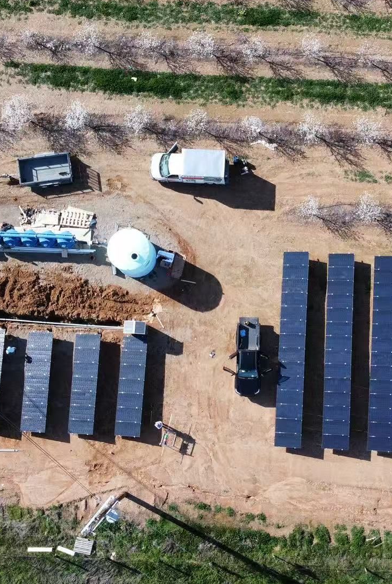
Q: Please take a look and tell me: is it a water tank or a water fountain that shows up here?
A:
water tank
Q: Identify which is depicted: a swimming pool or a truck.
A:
truck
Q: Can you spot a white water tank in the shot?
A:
Yes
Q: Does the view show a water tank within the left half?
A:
Yes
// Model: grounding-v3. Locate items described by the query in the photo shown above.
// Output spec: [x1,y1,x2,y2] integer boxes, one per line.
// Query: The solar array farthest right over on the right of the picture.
[367,254,392,451]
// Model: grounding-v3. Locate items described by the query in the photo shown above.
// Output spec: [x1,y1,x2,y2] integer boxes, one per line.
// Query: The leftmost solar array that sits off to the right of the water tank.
[275,250,310,450]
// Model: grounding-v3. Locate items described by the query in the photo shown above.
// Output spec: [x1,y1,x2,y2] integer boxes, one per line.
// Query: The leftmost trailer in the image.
[0,152,74,187]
